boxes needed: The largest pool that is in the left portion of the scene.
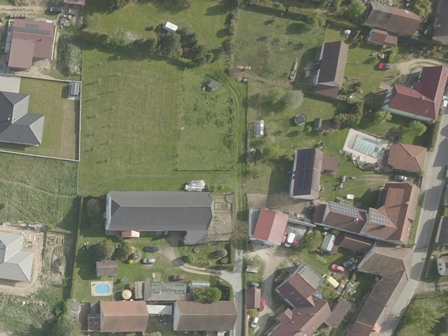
[93,282,111,294]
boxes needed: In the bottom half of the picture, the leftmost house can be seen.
[0,232,33,283]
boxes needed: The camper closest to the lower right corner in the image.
[436,257,448,276]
